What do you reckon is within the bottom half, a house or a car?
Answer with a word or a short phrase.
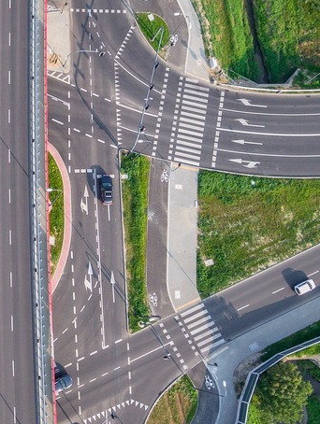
car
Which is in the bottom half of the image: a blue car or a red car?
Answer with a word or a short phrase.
blue car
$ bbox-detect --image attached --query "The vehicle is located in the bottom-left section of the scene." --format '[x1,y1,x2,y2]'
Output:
[53,372,75,392]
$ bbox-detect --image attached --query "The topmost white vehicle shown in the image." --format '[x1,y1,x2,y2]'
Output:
[294,278,320,296]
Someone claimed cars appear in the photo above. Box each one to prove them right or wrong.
[294,278,320,296]
[100,174,114,204]
[53,372,75,392]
